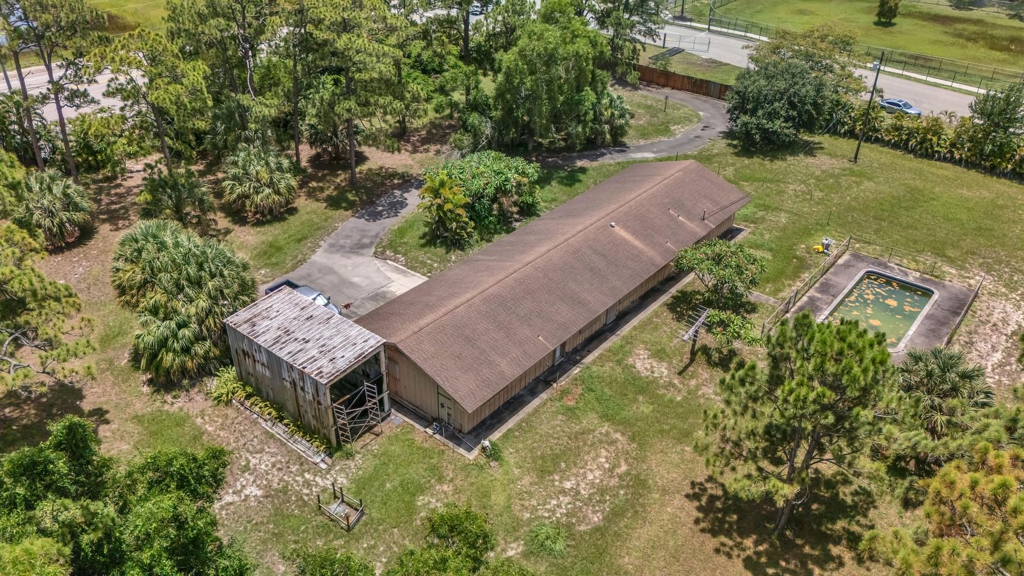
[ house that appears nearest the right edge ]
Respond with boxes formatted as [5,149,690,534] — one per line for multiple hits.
[354,159,751,435]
